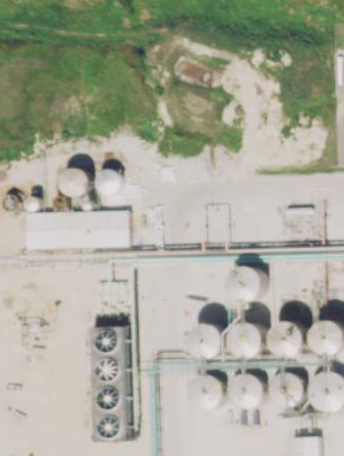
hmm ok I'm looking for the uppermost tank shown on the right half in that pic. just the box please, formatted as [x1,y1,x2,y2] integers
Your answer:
[226,265,270,302]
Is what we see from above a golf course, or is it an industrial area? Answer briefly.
industrial area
